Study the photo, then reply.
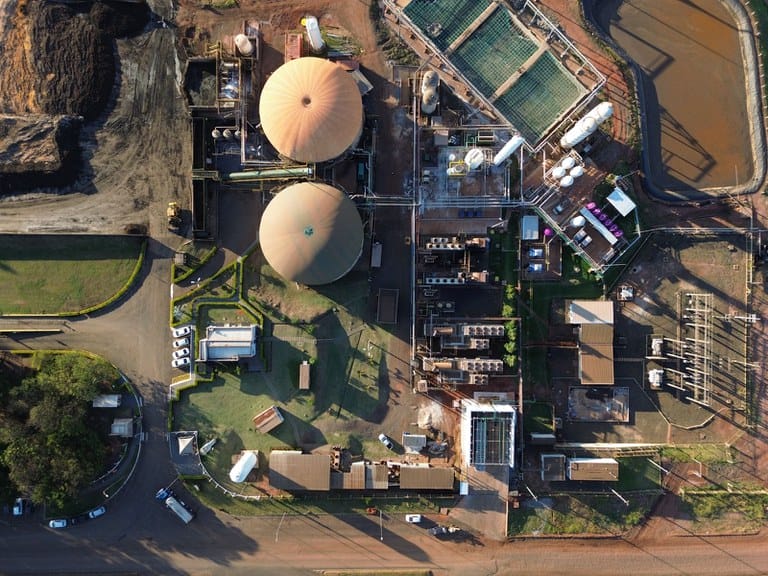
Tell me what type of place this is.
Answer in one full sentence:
What you see here is an industrial area.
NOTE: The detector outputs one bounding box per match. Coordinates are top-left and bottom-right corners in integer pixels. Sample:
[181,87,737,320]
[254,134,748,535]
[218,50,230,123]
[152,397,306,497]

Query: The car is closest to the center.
[378,430,394,448]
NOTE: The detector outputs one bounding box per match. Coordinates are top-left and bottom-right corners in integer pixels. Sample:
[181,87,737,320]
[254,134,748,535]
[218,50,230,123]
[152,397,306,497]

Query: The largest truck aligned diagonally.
[152,483,195,524]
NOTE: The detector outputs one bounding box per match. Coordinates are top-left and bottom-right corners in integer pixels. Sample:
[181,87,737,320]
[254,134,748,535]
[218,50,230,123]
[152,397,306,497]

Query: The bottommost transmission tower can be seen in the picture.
[730,358,761,373]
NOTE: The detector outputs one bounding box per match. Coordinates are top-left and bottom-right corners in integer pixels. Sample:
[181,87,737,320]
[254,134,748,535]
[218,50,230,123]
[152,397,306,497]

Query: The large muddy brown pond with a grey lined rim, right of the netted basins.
[581,0,762,202]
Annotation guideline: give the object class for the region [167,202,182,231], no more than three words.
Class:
work vehicle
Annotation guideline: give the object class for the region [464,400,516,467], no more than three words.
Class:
building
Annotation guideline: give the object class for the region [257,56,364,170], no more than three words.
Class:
storage tank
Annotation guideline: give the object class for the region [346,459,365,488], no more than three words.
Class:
shed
